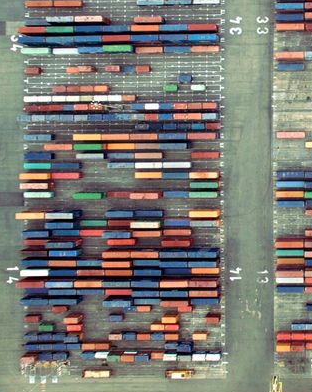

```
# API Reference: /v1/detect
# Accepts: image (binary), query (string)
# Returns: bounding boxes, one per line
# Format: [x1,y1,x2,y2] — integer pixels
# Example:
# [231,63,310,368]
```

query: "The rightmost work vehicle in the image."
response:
[164,362,198,379]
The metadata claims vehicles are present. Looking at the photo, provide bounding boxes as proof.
[164,362,198,379]
[84,362,119,379]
